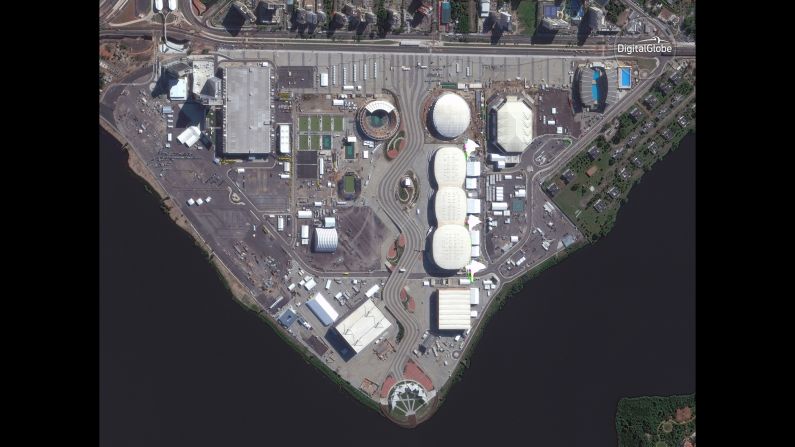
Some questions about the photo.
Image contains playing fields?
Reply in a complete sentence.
Yes, this view includes a playing field.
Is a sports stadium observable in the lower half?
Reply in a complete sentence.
Yes, I can see a sports stadium in the lower half.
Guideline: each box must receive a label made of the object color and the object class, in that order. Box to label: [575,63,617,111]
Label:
gray stadium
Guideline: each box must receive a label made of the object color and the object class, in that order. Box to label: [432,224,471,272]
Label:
white stadium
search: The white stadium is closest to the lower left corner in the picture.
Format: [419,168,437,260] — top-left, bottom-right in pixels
[335,299,391,355]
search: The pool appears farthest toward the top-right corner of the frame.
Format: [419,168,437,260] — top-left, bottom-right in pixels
[618,65,631,88]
